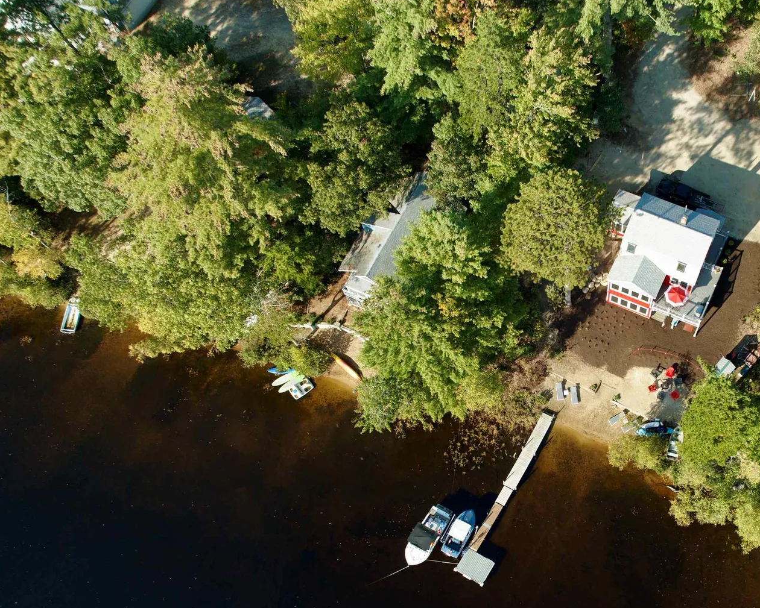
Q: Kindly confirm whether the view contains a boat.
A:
Yes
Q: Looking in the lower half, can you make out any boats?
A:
Yes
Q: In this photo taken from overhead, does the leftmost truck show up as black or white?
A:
black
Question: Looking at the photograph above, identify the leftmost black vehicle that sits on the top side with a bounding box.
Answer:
[654,174,712,208]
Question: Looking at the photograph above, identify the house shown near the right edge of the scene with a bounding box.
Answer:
[604,189,726,318]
